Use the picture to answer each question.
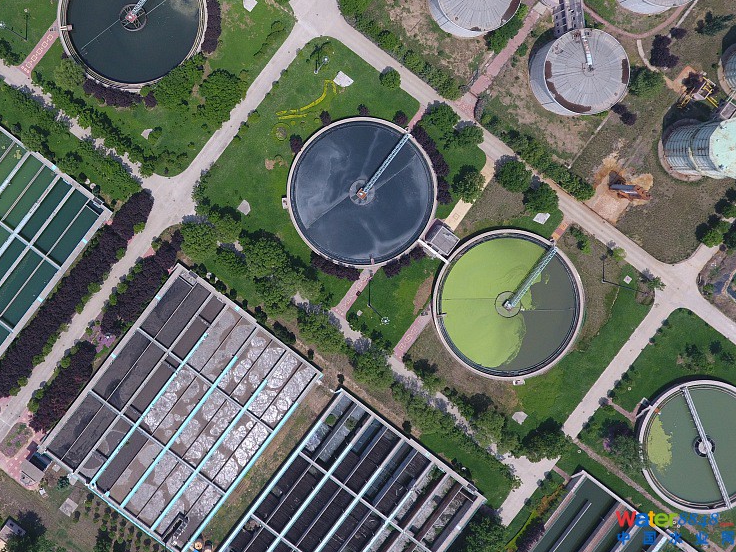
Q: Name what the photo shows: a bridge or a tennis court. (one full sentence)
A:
Looking from above, you can make out a bridge.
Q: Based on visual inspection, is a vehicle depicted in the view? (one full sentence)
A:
No, the frame has no vehicle in it.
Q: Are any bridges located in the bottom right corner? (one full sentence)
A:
Yes, there is a bridge in the bottom right corner.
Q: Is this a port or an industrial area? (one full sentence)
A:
It's an industrial area.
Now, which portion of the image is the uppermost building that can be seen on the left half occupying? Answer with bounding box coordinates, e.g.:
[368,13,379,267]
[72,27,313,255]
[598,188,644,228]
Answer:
[20,450,53,483]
